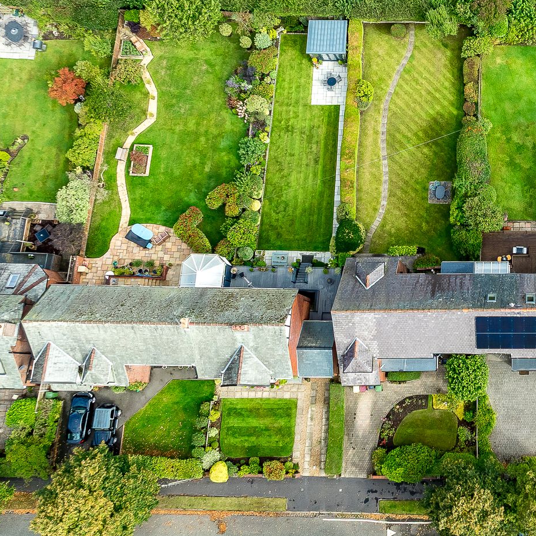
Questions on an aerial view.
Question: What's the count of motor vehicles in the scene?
2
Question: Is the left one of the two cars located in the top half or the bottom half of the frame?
bottom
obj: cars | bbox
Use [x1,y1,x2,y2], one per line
[64,392,98,447]
[90,399,122,448]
